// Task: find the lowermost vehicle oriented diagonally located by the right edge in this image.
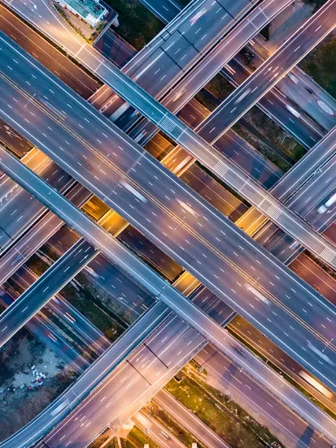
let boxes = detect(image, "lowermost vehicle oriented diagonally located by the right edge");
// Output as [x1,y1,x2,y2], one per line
[307,375,328,394]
